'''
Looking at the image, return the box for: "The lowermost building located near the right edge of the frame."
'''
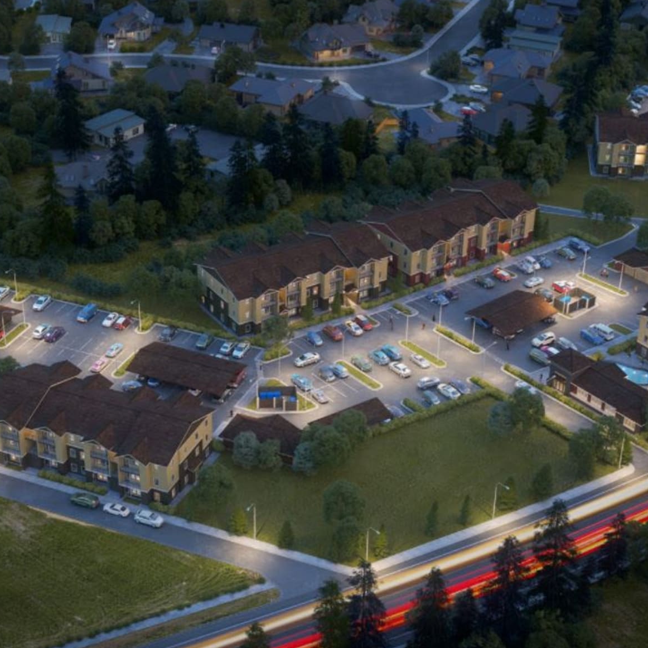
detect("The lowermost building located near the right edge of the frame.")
[530,341,648,435]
